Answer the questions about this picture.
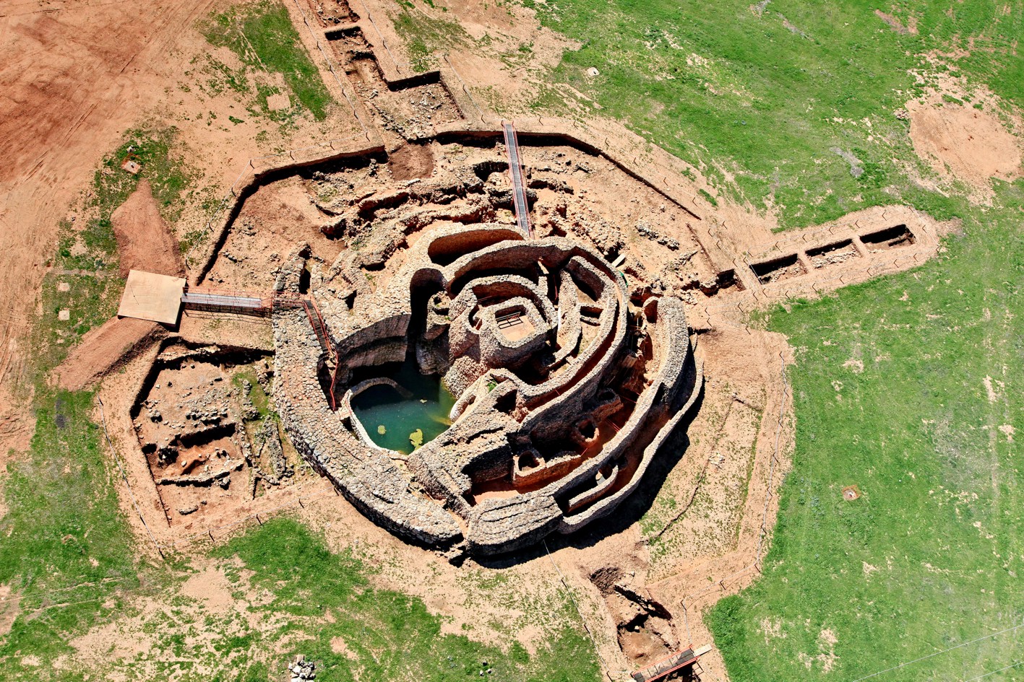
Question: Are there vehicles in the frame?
No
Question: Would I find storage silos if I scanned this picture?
Yes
